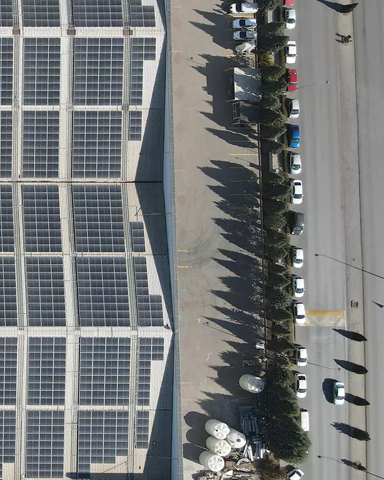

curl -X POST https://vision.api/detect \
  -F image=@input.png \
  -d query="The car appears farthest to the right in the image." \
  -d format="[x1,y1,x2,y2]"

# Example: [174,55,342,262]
[333,380,346,405]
